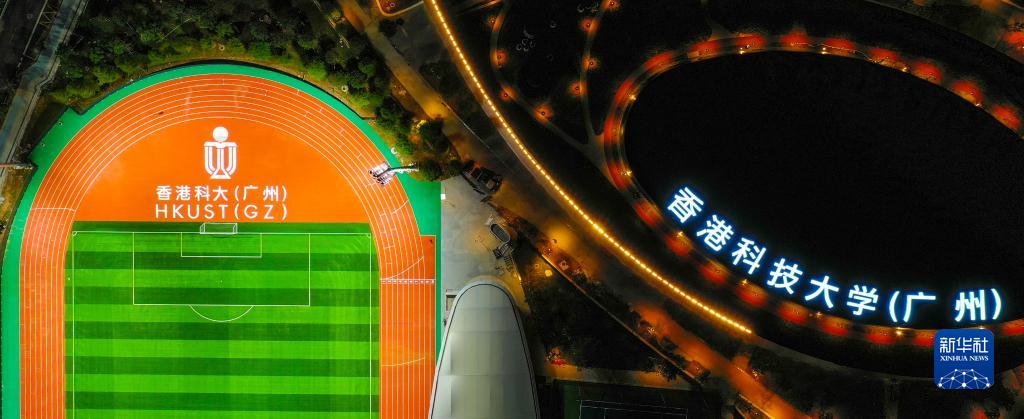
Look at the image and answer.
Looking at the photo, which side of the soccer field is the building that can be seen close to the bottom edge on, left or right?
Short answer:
on the right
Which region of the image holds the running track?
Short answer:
left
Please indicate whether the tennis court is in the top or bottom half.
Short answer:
bottom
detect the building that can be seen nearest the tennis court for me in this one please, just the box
[430,273,540,419]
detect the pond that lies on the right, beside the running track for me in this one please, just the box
[622,52,1024,330]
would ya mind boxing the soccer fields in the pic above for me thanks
[64,221,379,419]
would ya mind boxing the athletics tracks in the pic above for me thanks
[1,64,441,419]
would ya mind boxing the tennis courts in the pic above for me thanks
[553,380,707,419]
